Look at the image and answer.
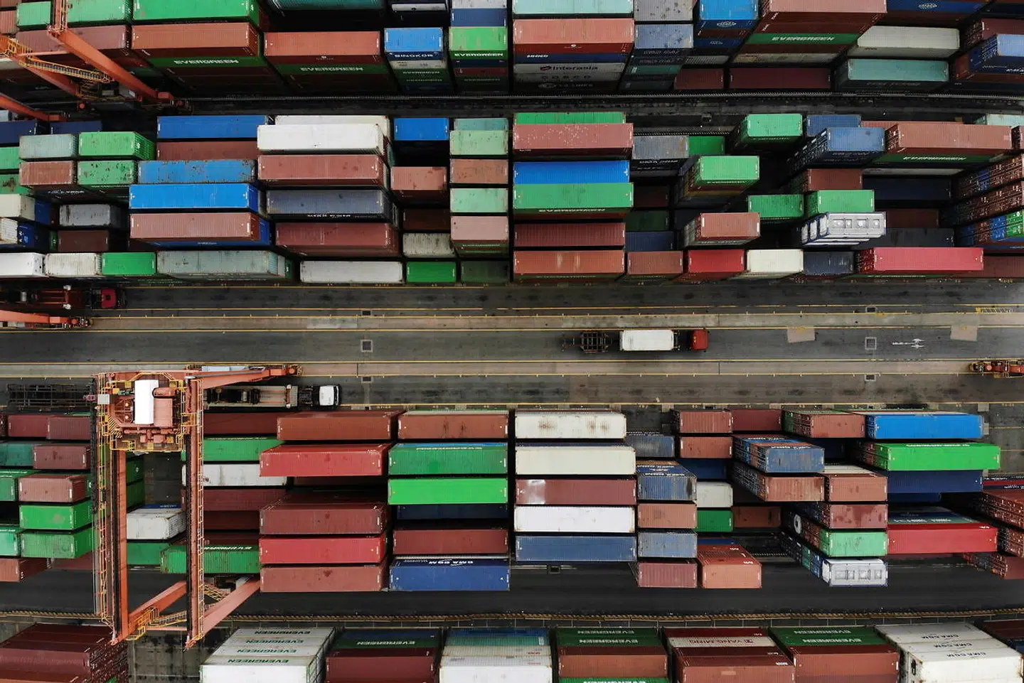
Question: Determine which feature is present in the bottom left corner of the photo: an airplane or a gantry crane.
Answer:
gantry crane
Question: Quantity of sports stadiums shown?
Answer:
none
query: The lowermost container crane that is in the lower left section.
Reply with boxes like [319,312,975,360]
[93,363,303,662]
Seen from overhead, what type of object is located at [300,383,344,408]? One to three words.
truck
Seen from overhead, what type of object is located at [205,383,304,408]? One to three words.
trailer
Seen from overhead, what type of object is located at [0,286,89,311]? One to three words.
trailer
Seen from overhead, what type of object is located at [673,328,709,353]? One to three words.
truck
